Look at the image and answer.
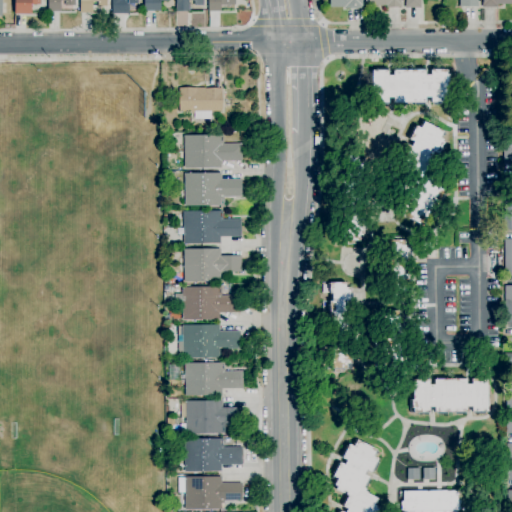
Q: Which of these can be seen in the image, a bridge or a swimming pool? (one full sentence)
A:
This aerial view contains a swimming pool.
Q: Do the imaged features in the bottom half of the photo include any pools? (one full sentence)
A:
Yes, looking in the bottom half of the photo, one can make out a pool.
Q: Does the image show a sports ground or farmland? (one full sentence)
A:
The picture captures a sports ground.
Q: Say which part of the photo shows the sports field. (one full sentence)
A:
The sports field appears toward the left of the photo.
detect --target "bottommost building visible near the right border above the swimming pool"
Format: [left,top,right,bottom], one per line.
[414,378,490,412]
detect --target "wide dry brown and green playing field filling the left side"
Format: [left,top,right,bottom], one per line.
[0,62,158,512]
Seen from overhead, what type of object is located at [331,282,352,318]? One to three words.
building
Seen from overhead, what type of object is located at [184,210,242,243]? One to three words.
house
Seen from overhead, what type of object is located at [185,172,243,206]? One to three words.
house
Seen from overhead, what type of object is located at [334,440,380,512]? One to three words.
building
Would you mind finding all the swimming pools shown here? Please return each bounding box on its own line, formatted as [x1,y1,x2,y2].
[410,435,446,461]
